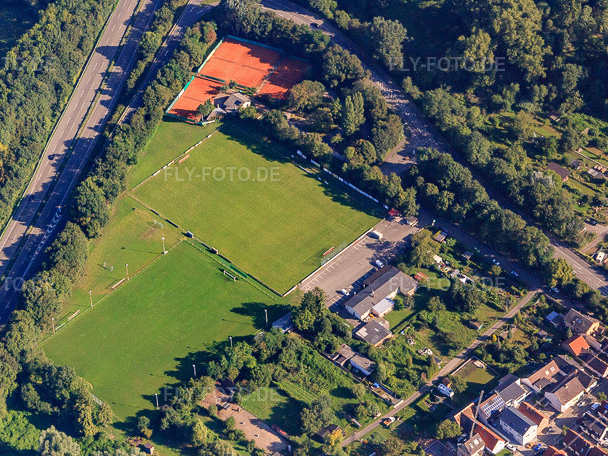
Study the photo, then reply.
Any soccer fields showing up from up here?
Yes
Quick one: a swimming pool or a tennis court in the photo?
tennis court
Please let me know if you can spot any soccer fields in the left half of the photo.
Yes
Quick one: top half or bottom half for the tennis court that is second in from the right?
top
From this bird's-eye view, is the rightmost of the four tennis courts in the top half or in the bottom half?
top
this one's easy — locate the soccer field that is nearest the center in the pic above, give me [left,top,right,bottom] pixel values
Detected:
[132,116,392,295]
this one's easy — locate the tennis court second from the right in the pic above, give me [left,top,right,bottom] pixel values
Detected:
[229,48,282,91]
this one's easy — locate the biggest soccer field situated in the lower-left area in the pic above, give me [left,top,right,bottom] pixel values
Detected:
[43,241,279,429]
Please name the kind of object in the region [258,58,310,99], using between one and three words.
tennis court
